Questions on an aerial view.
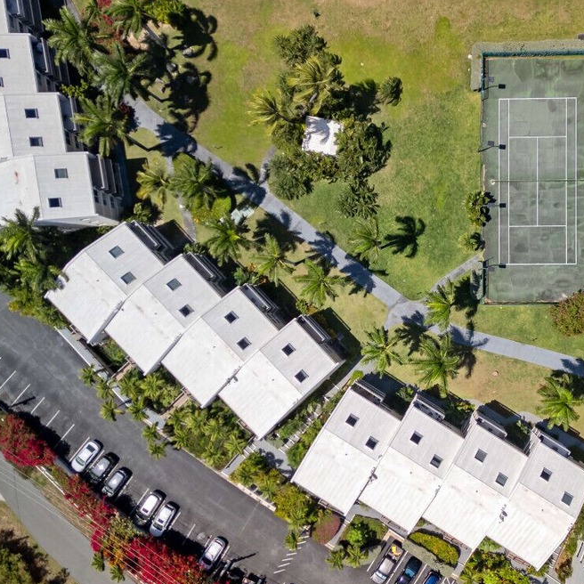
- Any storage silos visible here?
No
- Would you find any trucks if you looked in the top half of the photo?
No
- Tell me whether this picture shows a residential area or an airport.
residential area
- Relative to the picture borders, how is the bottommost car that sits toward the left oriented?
diagonally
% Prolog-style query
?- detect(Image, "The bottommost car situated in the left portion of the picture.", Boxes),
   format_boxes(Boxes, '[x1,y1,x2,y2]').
[199,537,227,571]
